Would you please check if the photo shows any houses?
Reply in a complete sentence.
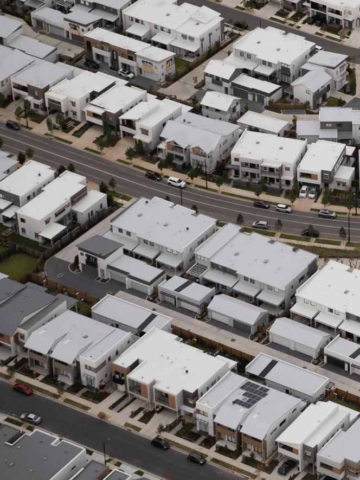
Yes, a house is visible in the scene.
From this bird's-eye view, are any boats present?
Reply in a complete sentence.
No, no boat is visible in the view.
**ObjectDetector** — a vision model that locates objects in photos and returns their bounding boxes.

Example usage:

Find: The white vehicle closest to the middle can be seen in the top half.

[167,176,187,188]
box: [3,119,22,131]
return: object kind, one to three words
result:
vehicle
